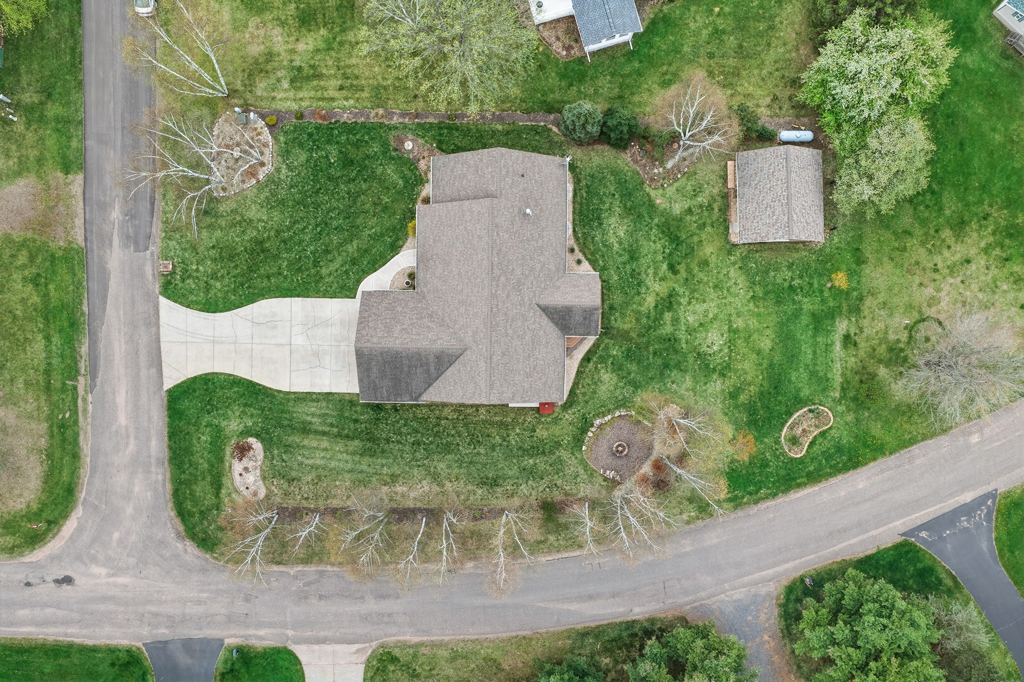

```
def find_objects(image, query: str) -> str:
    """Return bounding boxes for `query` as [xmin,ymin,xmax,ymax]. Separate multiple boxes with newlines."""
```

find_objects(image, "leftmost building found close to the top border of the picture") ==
[570,0,644,73]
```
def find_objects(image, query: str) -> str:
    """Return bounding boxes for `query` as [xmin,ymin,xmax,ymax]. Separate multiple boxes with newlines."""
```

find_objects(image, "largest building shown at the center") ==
[354,148,602,404]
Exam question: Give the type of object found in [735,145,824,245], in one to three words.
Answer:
shed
